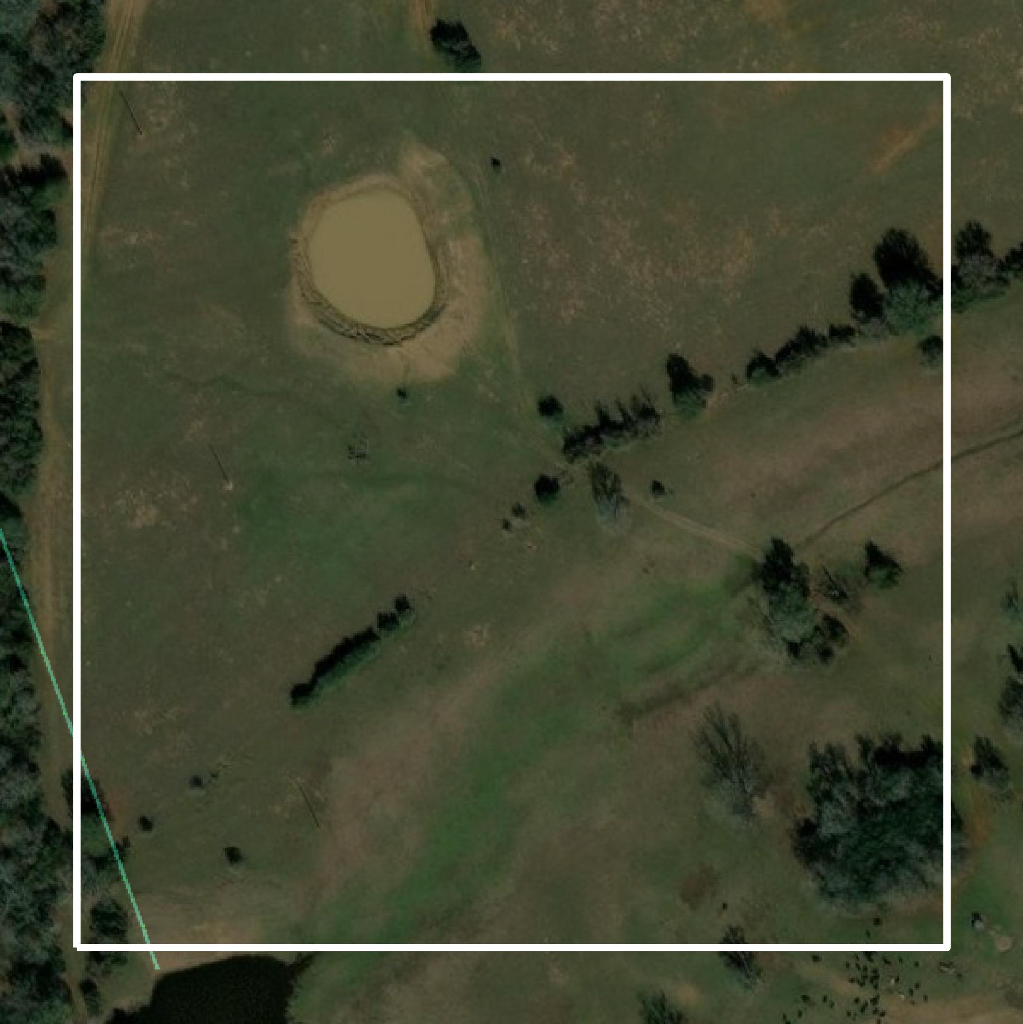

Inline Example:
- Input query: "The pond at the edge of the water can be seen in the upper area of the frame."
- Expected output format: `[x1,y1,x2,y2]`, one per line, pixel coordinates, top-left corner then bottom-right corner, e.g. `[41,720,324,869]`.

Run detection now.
[307,190,437,330]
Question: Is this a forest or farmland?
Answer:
farmland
